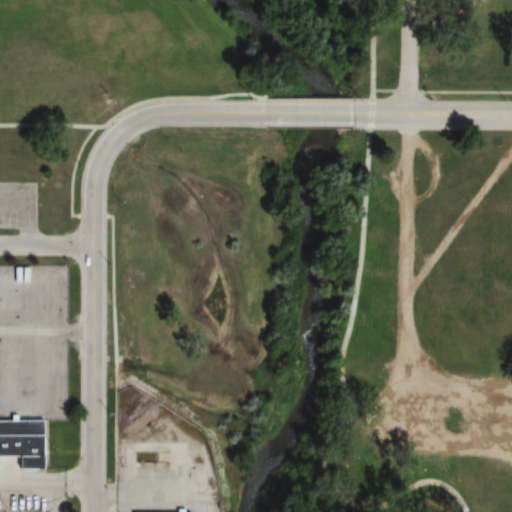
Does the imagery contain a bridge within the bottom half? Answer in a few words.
No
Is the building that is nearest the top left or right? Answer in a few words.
left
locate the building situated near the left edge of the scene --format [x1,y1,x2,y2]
[0,414,48,468]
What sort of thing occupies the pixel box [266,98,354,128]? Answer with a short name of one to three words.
bridge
